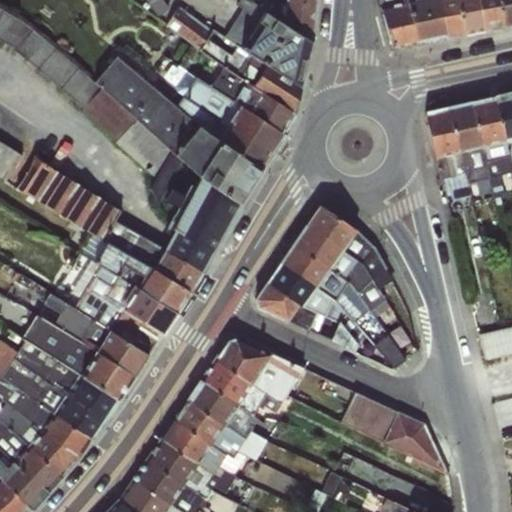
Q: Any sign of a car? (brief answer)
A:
Yes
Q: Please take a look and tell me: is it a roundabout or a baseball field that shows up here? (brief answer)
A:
roundabout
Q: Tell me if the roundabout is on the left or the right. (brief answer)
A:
right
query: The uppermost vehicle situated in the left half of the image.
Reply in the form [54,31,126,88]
[54,136,74,160]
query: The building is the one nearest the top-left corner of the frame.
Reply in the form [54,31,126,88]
[0,7,32,47]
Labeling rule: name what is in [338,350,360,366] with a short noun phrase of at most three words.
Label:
car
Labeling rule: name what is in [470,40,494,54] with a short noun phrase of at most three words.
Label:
vehicle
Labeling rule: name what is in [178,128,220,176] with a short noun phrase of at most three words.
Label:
building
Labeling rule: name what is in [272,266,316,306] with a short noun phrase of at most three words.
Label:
house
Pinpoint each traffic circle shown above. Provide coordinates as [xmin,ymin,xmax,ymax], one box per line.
[300,88,414,202]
